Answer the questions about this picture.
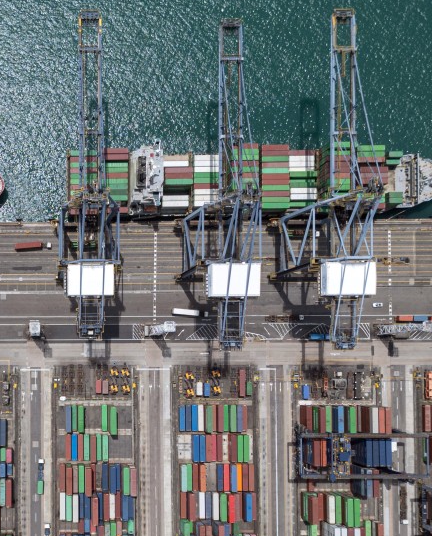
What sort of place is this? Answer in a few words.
port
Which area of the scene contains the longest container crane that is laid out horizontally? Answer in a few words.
bottom right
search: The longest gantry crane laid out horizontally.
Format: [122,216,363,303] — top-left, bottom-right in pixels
[297,423,428,480]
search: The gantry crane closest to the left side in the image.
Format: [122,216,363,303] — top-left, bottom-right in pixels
[49,9,121,347]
